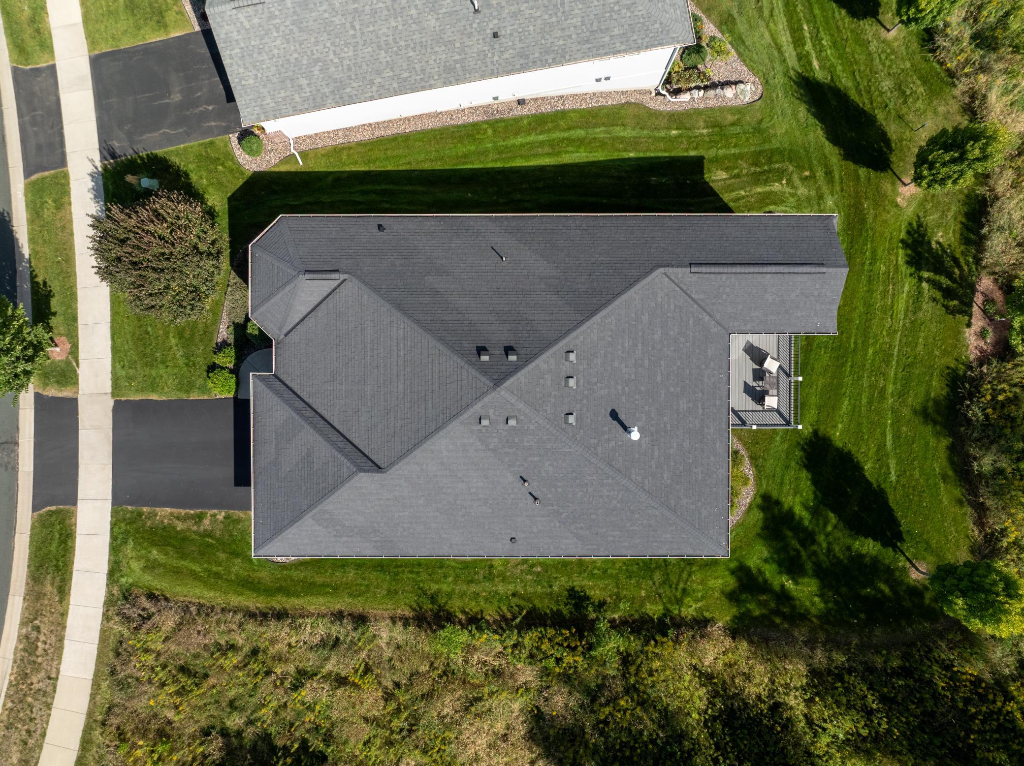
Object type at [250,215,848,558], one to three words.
house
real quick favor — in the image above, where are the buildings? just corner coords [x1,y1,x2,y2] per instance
[250,215,848,558]
[207,0,695,164]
